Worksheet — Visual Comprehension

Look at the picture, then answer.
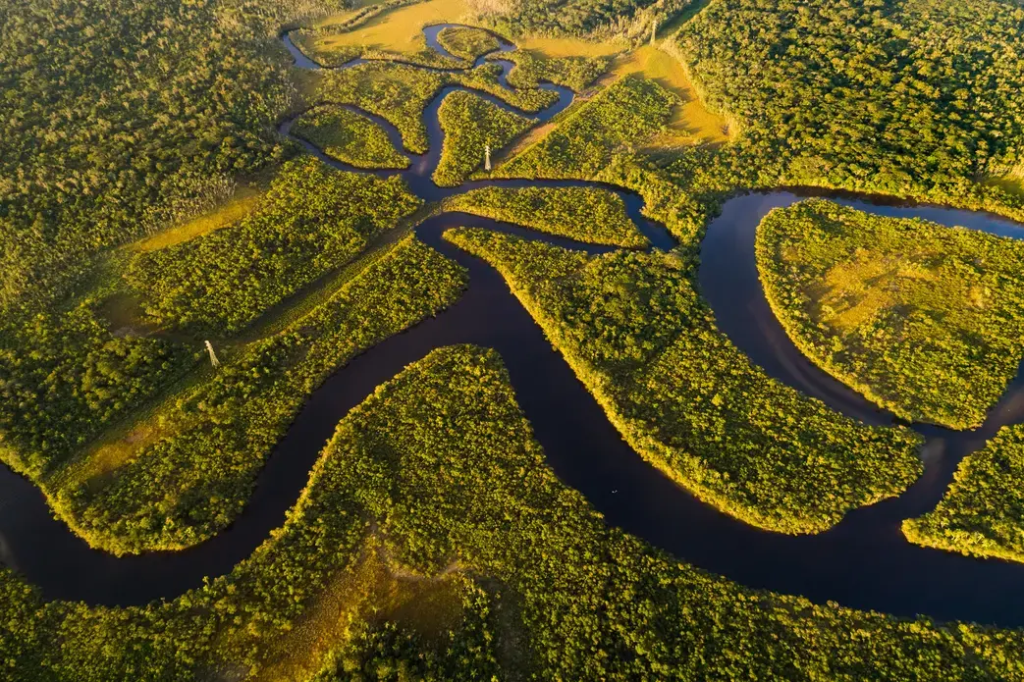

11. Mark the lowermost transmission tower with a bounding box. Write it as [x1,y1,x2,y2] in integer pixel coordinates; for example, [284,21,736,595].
[203,339,220,366]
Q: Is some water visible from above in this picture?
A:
Yes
